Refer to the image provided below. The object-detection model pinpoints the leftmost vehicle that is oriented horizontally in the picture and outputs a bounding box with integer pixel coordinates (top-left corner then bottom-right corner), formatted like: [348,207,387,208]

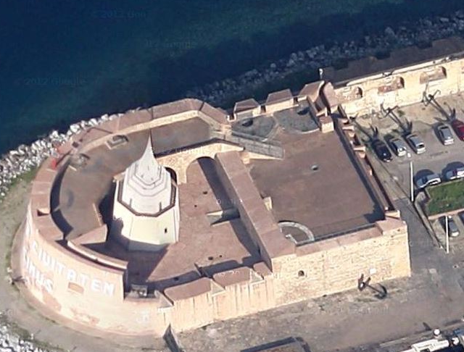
[414,171,441,186]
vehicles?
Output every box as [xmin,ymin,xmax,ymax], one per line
[414,171,441,186]
[442,164,464,180]
[407,133,427,154]
[390,136,408,158]
[373,140,391,160]
[441,217,460,238]
[435,125,457,146]
[451,120,464,141]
